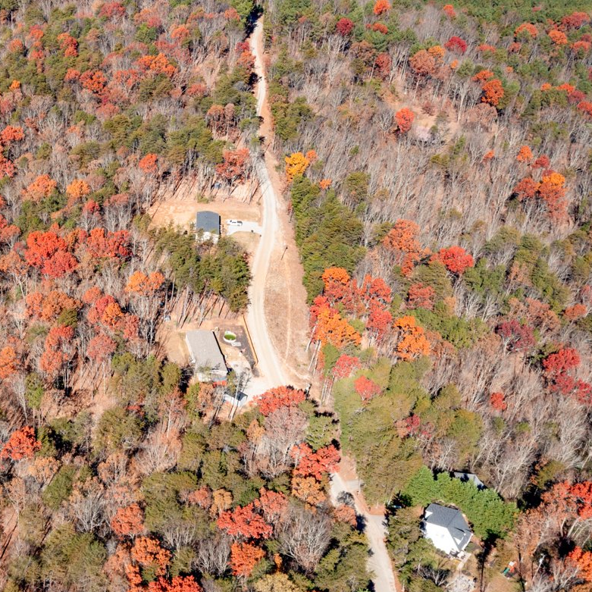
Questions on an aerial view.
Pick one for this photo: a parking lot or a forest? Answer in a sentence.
The area seen from above is a forest.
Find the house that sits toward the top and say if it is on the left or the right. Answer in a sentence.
The house that sits toward the top sits on the left side.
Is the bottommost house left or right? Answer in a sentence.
The bottommost house is on the right side of the image.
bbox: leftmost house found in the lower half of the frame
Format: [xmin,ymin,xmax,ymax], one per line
[187,329,229,382]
